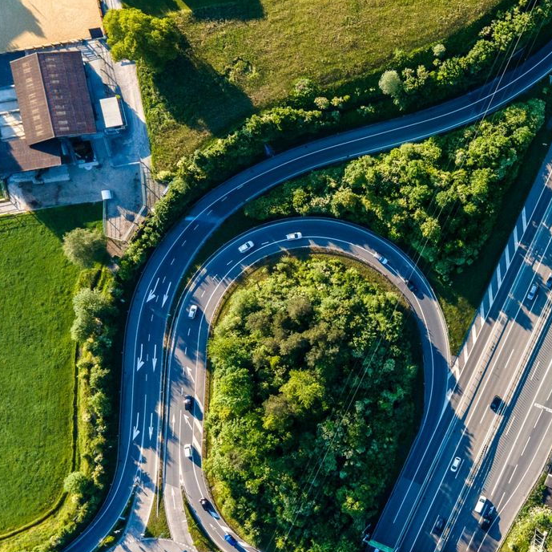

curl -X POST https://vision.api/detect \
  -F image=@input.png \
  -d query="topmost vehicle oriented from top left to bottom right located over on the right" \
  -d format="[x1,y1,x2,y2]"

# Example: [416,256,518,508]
[372,253,387,266]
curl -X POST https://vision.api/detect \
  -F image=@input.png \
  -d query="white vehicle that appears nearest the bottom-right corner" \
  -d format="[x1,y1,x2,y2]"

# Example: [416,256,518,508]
[473,496,486,516]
